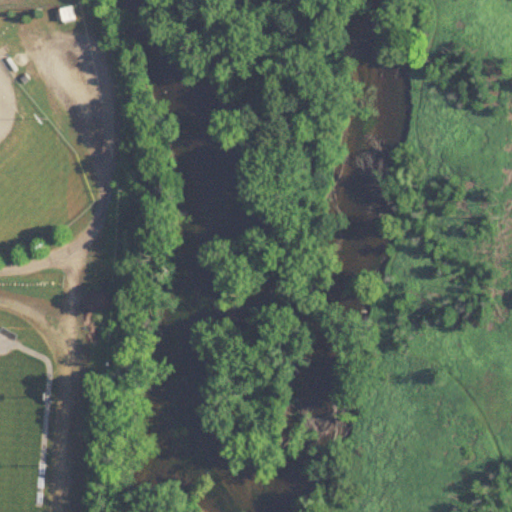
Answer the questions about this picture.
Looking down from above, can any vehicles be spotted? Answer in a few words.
No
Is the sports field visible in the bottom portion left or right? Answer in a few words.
left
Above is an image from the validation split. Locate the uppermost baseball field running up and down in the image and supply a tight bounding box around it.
[0,20,94,243]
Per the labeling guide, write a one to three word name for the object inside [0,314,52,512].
sports field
